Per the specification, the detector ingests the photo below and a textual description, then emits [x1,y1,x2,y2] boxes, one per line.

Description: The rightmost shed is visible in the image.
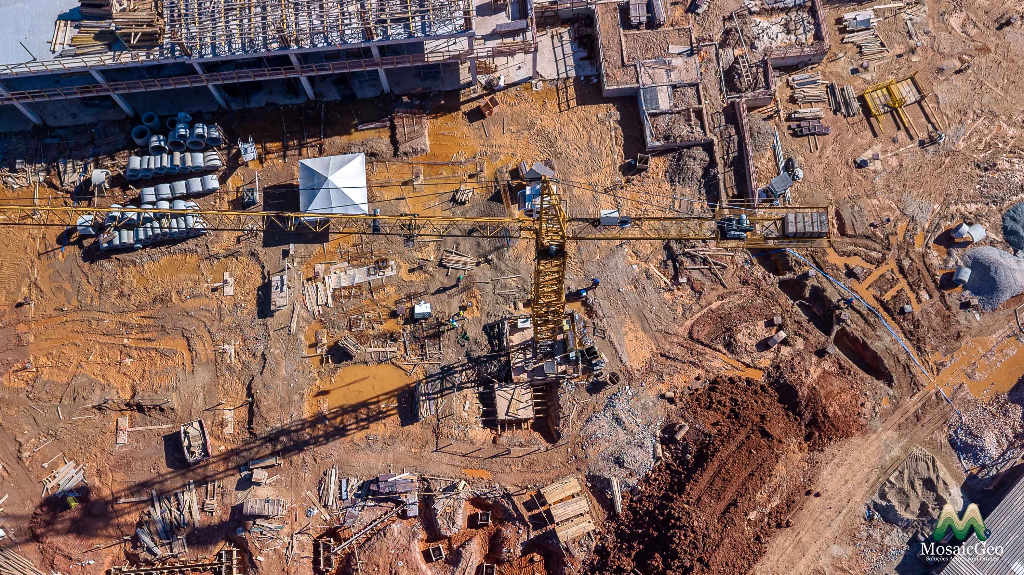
[920,469,1024,575]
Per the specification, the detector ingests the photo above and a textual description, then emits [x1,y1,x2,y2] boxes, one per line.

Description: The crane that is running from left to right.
[0,167,849,359]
